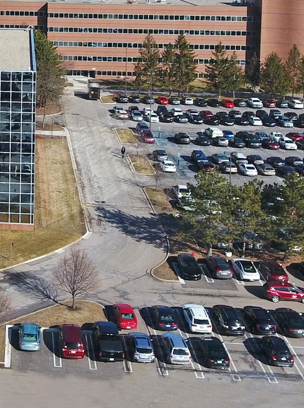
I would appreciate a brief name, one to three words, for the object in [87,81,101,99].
vehicle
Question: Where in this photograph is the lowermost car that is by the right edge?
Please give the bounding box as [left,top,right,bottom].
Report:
[255,335,292,375]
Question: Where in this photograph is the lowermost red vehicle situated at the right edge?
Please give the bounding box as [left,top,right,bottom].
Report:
[261,277,304,302]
